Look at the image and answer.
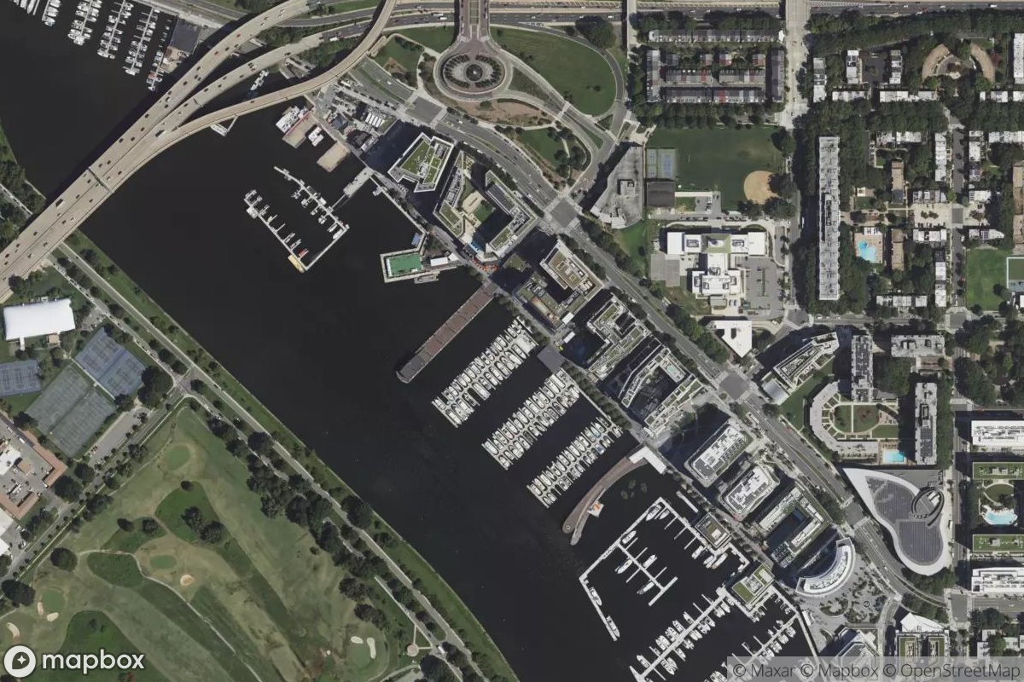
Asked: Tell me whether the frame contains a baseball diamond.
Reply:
Yes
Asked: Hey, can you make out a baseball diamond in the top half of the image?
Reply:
Yes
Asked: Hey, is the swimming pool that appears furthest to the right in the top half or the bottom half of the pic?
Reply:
bottom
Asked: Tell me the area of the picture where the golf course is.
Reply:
bottom left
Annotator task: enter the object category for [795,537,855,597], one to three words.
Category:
building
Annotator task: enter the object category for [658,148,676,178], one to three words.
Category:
sports court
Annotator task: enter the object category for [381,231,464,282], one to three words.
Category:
pier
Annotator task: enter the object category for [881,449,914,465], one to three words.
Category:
swimming pool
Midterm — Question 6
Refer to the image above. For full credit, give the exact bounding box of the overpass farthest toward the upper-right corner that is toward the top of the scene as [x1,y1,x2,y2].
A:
[786,0,810,24]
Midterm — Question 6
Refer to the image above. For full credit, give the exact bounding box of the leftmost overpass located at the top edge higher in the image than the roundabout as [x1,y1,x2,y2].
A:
[458,0,491,39]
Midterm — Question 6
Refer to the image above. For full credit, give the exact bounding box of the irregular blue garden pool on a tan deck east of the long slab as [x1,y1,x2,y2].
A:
[854,233,883,263]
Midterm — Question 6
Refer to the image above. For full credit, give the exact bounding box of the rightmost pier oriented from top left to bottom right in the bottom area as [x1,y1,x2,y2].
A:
[665,492,749,568]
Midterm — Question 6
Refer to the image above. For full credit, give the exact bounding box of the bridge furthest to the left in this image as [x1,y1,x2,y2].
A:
[0,0,396,303]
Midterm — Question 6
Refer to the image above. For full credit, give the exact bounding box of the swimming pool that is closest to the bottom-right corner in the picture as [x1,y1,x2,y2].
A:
[981,505,1019,525]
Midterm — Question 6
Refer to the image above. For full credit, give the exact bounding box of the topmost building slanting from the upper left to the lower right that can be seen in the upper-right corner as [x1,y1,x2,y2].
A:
[968,42,995,84]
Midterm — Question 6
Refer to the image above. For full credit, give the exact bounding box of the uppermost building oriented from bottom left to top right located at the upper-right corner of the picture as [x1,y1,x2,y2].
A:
[921,43,952,85]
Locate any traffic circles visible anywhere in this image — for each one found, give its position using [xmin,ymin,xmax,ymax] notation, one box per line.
[433,39,509,102]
